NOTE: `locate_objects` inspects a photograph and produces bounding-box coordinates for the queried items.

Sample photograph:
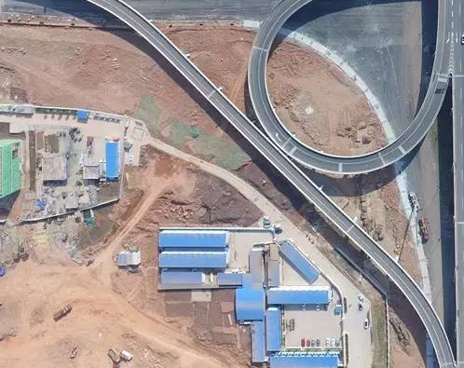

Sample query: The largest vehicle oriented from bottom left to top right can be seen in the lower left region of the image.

[50,307,70,323]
